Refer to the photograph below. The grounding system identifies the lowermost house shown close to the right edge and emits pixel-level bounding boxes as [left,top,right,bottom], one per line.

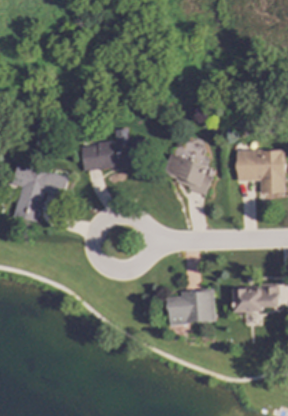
[237,286,280,316]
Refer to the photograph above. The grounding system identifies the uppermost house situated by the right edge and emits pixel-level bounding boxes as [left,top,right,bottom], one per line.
[238,149,288,196]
